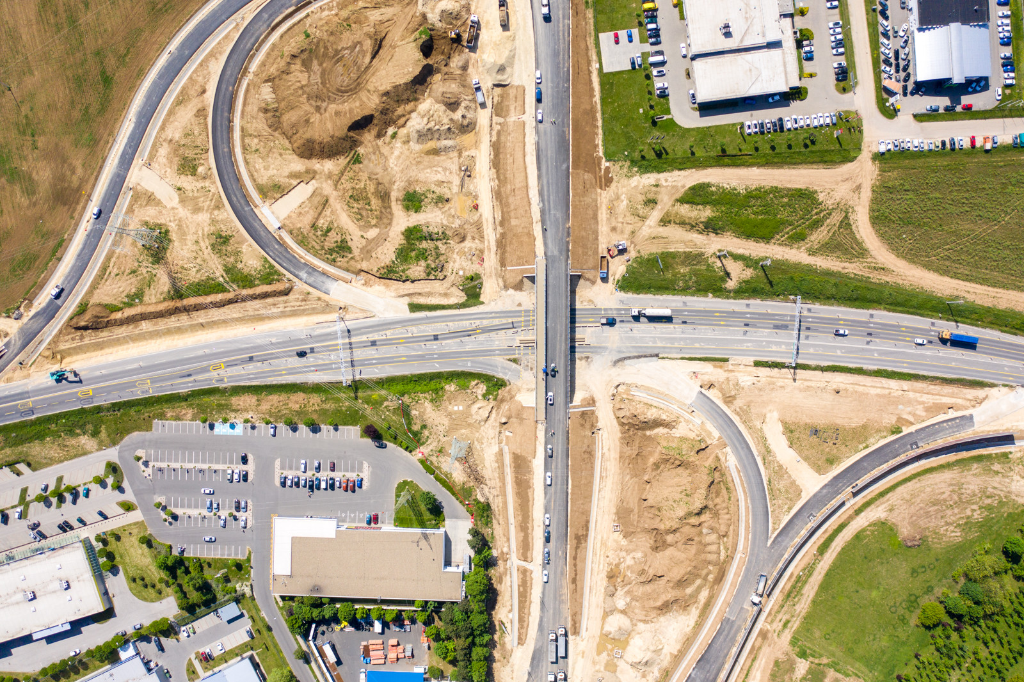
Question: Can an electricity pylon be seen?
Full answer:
Yes, this view includes an electricity pylon.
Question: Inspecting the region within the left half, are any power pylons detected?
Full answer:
Yes, looking within the left half, one can make out a power pylon.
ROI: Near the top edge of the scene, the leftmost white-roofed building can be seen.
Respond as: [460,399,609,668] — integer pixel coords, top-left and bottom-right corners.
[681,0,799,107]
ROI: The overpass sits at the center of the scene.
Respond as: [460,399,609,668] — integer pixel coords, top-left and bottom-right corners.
[523,258,581,428]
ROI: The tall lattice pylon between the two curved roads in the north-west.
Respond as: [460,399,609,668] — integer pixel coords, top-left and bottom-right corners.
[100,210,160,249]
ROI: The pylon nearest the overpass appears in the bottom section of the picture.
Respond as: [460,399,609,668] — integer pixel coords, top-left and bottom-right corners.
[447,435,471,473]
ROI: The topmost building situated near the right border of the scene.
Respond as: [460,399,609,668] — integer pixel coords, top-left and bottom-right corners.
[903,0,991,85]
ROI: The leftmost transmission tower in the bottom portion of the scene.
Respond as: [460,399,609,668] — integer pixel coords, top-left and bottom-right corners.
[388,484,417,511]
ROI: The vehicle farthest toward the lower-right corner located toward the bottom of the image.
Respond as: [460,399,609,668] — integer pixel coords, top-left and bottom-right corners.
[751,575,768,604]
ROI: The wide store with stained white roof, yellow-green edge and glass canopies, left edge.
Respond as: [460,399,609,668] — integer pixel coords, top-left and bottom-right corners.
[0,532,117,639]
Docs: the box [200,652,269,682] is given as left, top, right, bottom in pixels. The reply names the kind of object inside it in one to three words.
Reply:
building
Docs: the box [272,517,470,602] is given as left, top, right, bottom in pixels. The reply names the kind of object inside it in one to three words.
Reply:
building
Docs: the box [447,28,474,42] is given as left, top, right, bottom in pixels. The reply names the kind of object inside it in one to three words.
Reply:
work vehicle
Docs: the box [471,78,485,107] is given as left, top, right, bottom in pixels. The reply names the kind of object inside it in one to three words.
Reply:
vehicle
